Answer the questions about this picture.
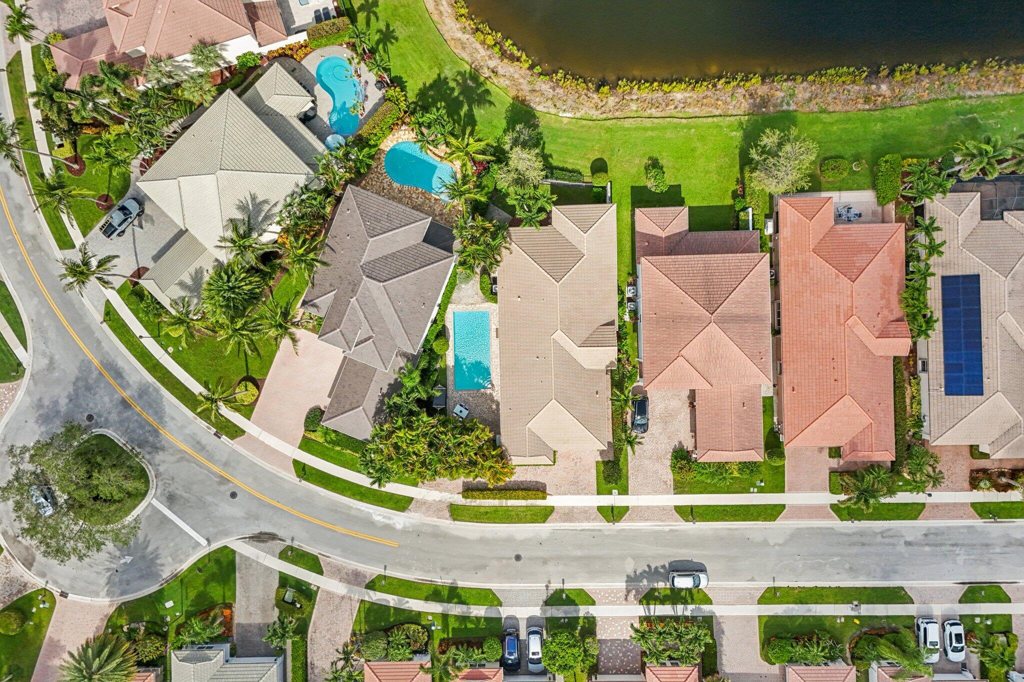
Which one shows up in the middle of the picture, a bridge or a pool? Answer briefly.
pool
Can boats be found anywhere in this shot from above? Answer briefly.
No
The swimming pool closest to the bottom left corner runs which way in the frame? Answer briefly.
vertically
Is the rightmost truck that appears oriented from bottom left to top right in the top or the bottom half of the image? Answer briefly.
top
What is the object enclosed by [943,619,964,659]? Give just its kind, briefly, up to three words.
car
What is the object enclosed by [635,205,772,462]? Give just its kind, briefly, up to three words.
house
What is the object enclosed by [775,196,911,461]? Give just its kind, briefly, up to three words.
house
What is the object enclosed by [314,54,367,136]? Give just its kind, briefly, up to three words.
swimming pool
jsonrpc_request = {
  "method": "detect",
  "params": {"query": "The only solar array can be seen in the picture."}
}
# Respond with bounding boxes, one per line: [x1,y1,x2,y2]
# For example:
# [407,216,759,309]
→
[942,274,983,395]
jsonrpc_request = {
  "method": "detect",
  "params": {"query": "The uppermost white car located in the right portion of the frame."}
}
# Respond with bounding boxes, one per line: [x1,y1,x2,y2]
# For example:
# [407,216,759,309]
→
[669,569,707,590]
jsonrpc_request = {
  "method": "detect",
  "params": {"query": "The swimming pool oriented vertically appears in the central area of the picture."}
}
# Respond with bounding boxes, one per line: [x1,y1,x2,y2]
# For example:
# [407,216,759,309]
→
[452,310,495,397]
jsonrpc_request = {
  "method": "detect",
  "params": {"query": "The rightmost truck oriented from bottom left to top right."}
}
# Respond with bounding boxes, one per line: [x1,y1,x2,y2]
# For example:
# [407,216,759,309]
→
[100,197,144,241]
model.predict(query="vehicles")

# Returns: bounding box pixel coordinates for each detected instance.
[669,569,707,590]
[916,619,940,660]
[631,394,650,434]
[501,627,521,668]
[943,619,964,659]
[525,627,544,667]
[100,197,144,241]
